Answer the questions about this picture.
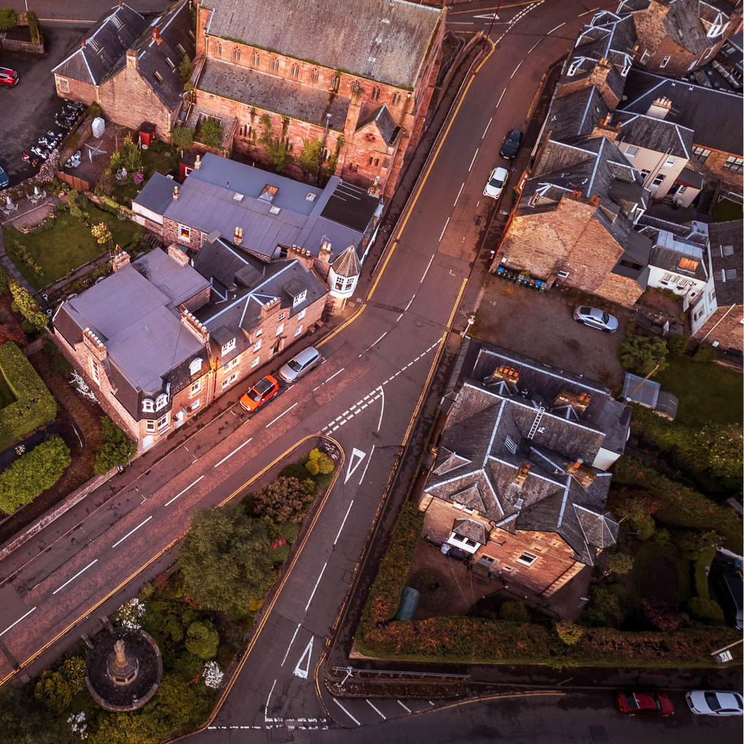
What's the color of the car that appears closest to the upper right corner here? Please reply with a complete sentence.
From above, the car that appears closest to the upper right corner appears black.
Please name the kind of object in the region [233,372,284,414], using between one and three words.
car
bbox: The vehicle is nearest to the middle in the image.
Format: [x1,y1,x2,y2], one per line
[274,343,328,388]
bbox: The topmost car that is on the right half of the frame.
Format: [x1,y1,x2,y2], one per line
[498,127,522,163]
